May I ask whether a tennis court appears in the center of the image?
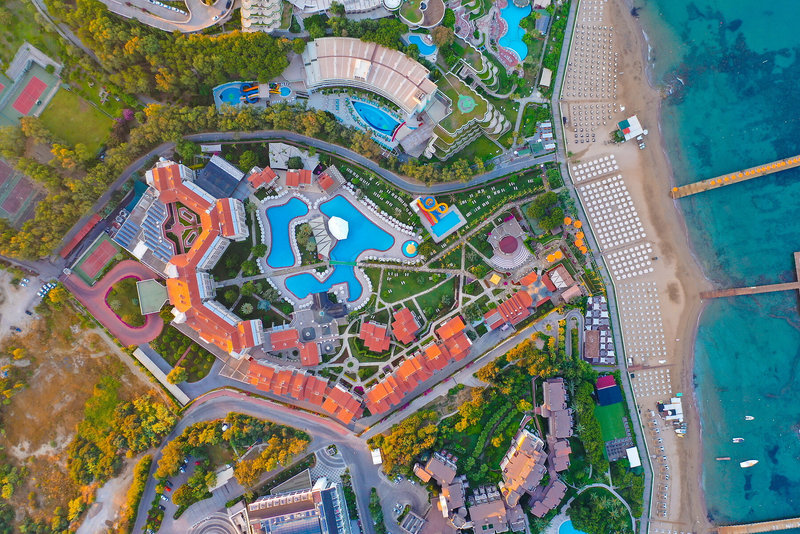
No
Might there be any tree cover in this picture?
Yes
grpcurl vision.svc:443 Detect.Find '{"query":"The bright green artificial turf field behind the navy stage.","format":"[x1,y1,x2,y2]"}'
[600,402,628,442]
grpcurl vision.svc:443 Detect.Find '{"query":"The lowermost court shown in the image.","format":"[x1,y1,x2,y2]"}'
[72,233,122,286]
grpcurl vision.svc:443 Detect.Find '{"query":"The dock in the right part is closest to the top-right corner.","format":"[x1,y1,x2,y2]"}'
[671,155,800,199]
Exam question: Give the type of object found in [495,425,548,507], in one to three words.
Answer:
building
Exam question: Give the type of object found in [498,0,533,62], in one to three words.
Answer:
swimming pool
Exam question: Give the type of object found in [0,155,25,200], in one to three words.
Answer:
tennis court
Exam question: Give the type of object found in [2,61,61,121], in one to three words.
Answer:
tennis court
